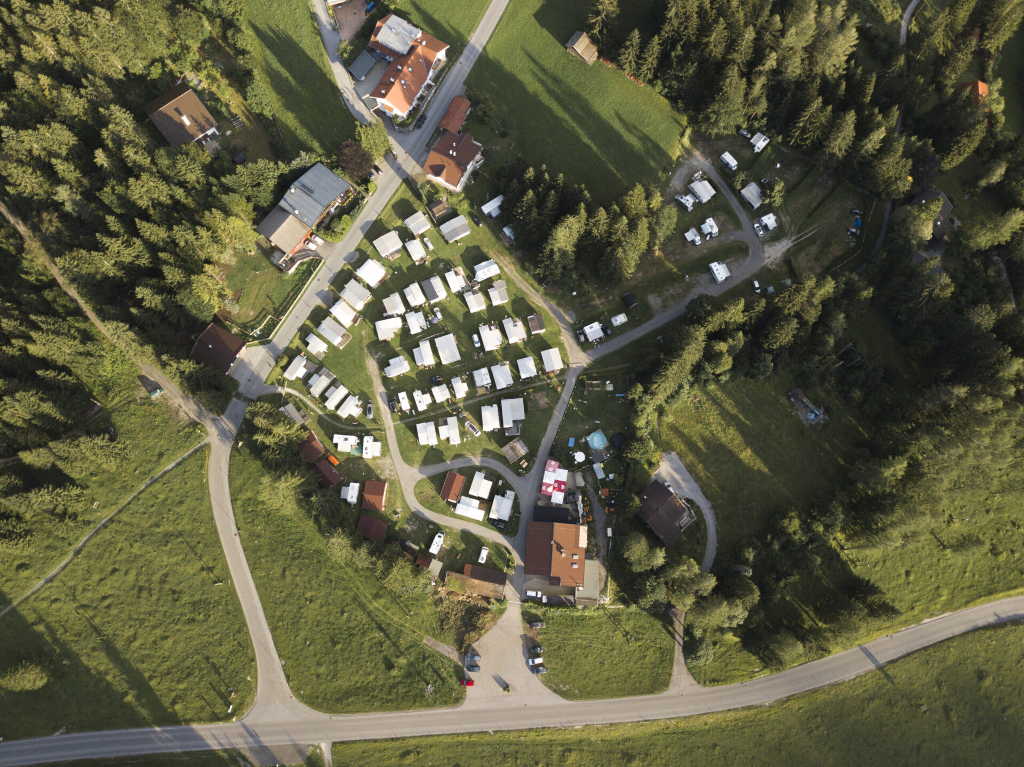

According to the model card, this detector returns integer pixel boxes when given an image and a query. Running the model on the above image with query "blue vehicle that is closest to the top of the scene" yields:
[364,1,377,14]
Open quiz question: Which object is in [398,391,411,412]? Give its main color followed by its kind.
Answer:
white vehicle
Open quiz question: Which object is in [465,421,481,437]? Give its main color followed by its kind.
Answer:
white vehicle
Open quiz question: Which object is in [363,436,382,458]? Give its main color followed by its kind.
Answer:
white camper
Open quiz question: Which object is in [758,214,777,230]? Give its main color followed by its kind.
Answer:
white camper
